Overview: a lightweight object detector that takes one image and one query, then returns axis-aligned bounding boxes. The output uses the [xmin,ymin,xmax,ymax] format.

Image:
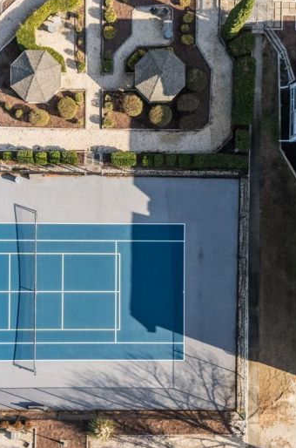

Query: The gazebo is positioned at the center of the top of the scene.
[133,48,187,105]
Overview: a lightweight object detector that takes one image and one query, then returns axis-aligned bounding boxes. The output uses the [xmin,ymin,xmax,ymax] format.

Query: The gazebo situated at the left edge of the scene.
[9,49,63,105]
